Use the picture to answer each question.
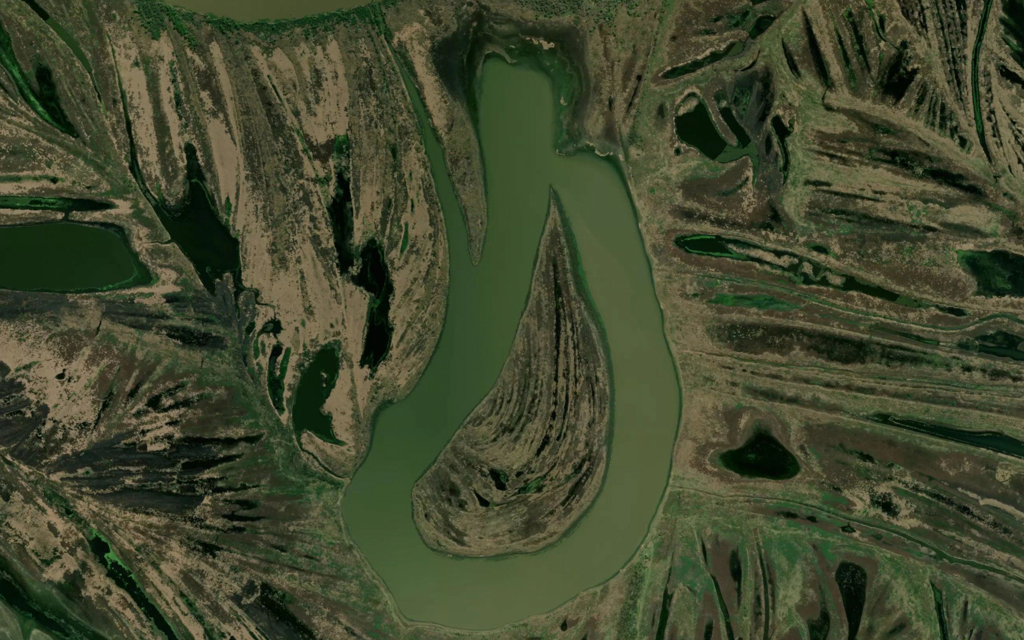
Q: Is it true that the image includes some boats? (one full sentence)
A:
No, there isn't any boat down there.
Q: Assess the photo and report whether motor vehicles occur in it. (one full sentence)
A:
No, I find no motor vehicle anywhere in the image.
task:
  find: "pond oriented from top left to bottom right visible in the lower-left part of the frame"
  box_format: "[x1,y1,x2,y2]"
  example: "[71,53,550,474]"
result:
[90,536,179,640]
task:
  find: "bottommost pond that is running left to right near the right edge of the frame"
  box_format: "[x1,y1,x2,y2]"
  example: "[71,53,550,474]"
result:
[867,414,1024,459]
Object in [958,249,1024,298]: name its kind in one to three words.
pond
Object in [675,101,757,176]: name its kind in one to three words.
pond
